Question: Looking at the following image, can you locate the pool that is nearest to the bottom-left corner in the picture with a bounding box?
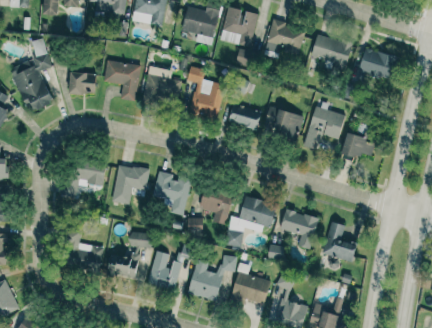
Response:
[113,222,127,236]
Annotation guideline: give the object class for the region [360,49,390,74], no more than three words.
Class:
house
